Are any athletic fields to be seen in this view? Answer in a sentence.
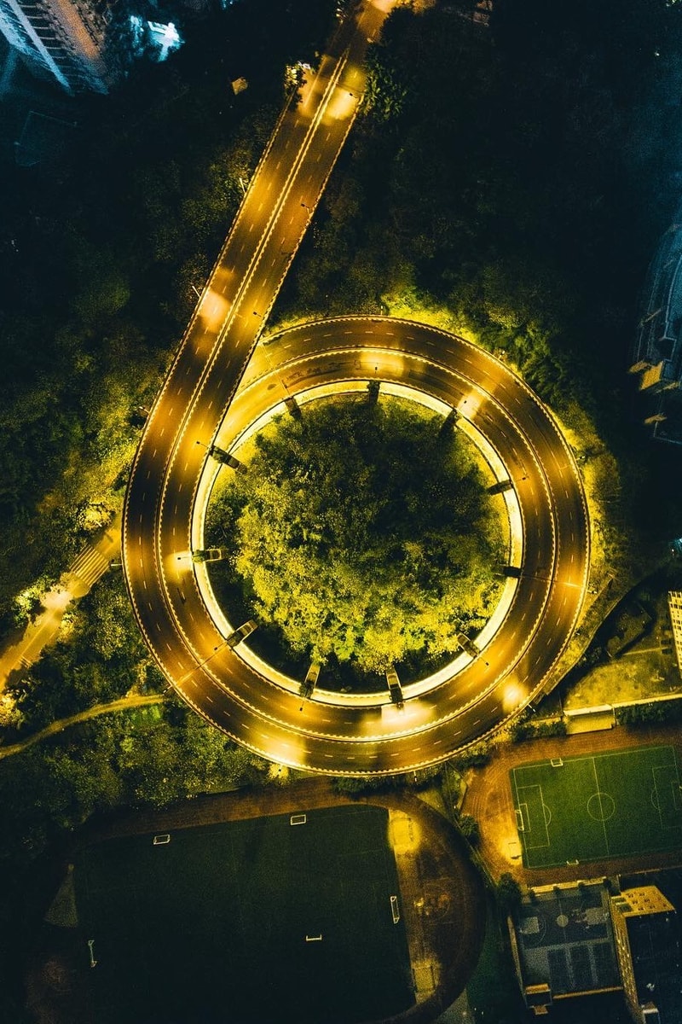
Yes, I can see an athletic field in this picture.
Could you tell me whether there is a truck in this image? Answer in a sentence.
No, there isn't any truck down there.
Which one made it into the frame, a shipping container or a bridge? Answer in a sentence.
This aerial view contains a bridge.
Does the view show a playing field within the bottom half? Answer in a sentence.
Yes, I can see a playing field within the bottom half.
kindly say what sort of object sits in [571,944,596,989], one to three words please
sports court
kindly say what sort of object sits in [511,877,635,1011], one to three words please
building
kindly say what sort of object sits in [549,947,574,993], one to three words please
sports court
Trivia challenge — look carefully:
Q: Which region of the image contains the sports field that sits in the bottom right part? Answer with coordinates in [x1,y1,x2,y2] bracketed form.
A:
[510,744,682,869]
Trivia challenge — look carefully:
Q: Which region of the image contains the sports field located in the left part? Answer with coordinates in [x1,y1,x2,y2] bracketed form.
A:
[73,806,416,1024]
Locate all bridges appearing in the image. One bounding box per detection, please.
[115,74,589,777]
